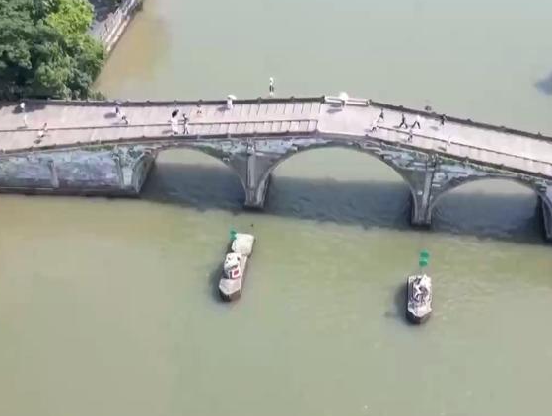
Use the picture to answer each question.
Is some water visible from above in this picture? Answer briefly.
Yes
